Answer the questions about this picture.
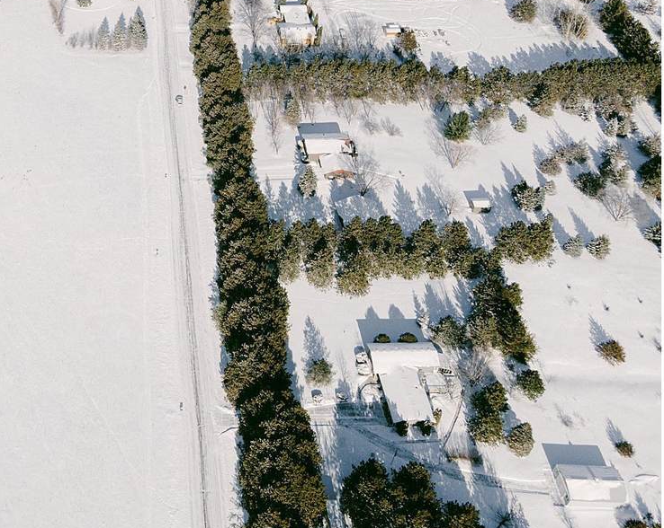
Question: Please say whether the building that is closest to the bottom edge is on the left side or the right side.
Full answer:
The building that is closest to the bottom edge sits on the right side.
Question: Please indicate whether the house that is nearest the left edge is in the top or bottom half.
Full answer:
You can find the house that is nearest the left edge in the top half.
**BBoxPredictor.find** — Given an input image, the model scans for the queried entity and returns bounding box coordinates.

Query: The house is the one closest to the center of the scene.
[302,130,354,184]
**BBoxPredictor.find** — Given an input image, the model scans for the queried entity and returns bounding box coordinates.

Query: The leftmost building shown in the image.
[268,2,318,52]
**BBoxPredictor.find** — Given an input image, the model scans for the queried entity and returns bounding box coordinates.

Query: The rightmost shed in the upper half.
[462,193,494,213]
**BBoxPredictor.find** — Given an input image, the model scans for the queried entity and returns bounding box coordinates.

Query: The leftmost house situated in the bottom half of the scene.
[365,343,452,431]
